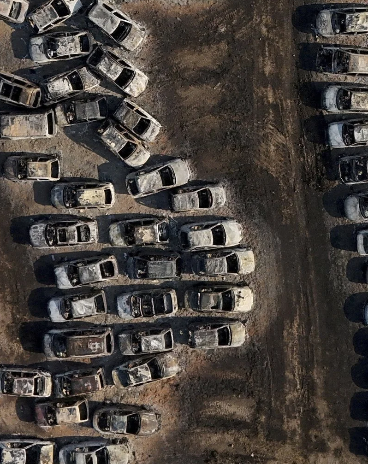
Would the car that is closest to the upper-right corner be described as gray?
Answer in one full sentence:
Yes, the car that is closest to the upper-right corner is indeed gray.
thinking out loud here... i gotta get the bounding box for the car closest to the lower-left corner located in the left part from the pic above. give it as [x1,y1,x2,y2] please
[0,438,59,464]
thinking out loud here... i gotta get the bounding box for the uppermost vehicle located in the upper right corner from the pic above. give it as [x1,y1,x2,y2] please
[315,6,368,36]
